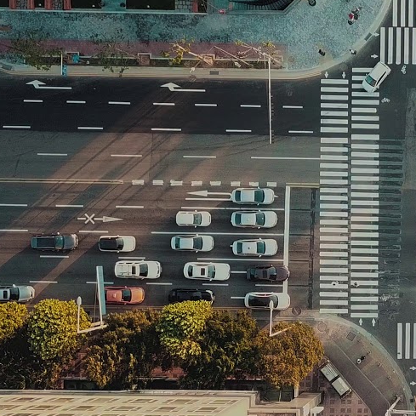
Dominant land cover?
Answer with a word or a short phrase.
paved ground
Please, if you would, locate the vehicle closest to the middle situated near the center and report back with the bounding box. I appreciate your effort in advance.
[176,209,214,228]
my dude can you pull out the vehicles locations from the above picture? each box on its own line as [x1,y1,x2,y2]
[30,232,81,251]
[231,186,278,205]
[171,233,216,252]
[231,210,279,228]
[244,290,292,311]
[106,285,148,306]
[247,264,290,283]
[184,262,232,282]
[176,209,214,228]
[0,284,38,303]
[232,238,278,257]
[168,287,216,305]
[363,59,392,94]
[99,234,138,253]
[115,260,164,280]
